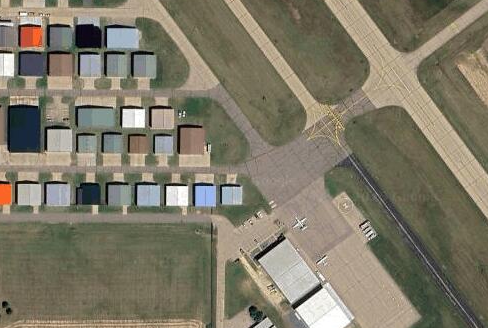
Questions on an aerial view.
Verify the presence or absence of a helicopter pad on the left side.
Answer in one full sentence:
No, on the left side there is no helicopter pad.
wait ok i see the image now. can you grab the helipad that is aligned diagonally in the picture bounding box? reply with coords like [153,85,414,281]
[334,192,373,242]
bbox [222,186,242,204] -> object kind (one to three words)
hangar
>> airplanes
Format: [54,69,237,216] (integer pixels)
[292,217,306,230]
[316,256,327,266]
